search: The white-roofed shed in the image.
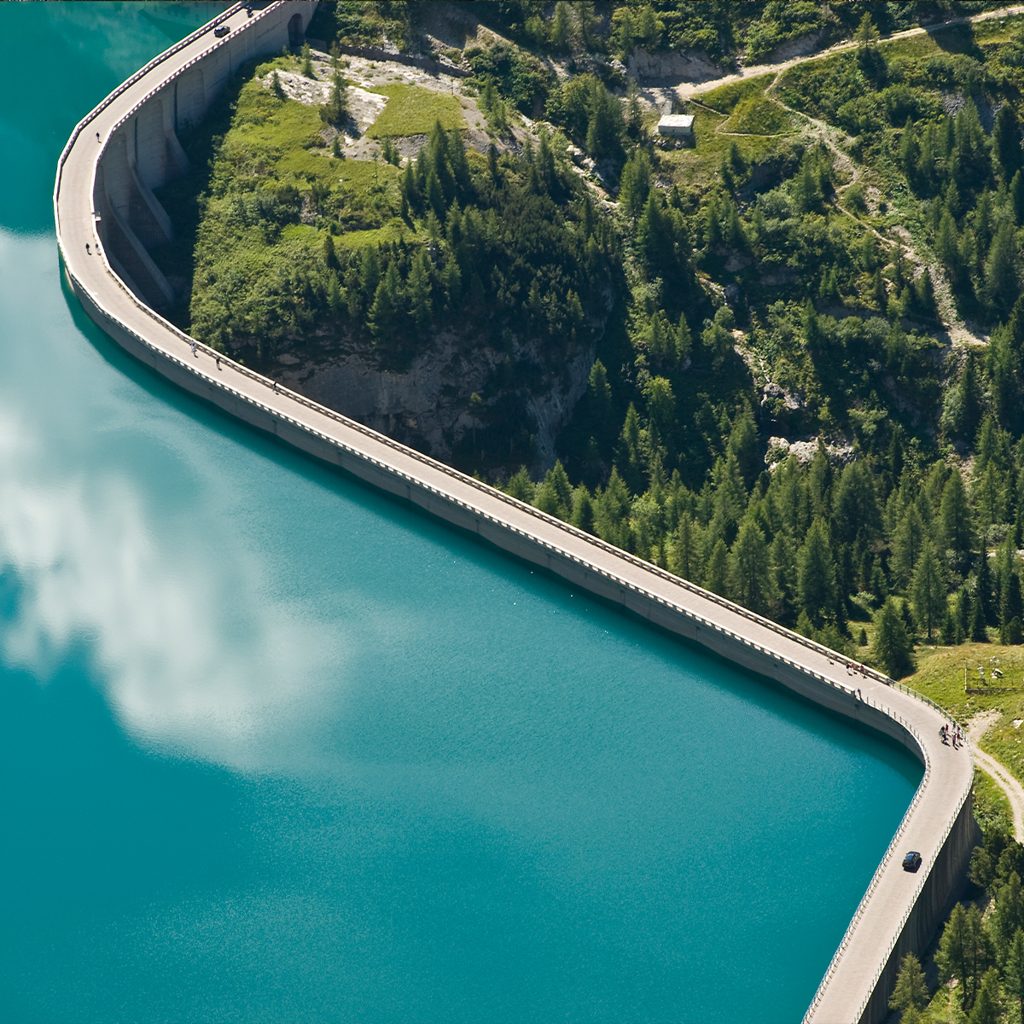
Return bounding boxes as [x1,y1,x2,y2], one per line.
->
[656,112,692,136]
